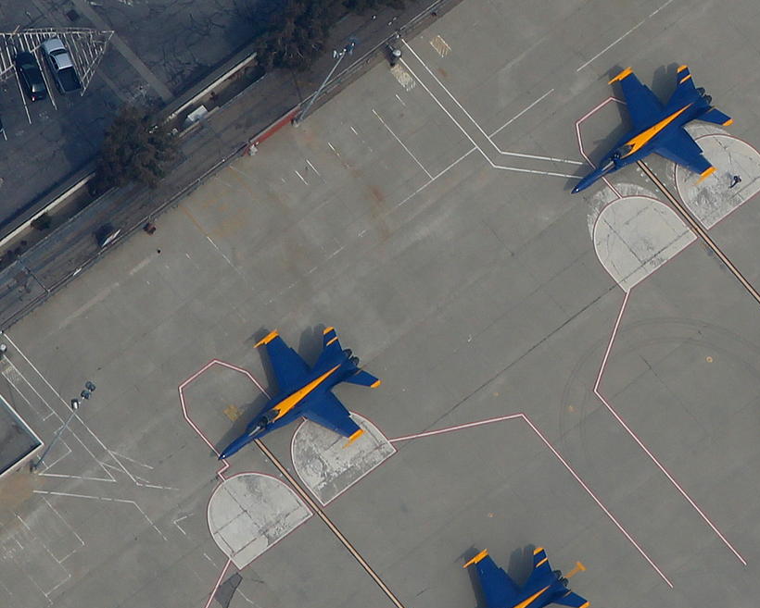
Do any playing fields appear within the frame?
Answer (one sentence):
No, no playing field is visible in the scene.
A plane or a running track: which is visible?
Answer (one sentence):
The image shows a plane.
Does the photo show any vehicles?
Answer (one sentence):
Yes, a vehicle is visible in the scene.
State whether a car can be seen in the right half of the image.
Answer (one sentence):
No, no car can be made out in the right half of the image.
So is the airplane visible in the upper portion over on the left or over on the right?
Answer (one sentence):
The airplane visible in the upper portion appears in the right half of the scene.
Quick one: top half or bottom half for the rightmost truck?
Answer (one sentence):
You can find the rightmost truck in the top half.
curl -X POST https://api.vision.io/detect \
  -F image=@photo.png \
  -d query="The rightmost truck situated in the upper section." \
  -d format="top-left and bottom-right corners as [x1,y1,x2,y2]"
[40,36,84,98]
